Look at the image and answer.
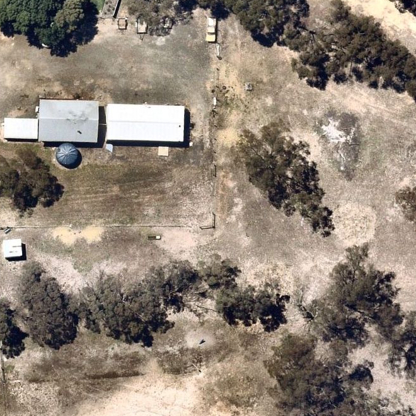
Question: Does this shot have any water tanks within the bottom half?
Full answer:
No, looking within the bottom half, there is no water tank.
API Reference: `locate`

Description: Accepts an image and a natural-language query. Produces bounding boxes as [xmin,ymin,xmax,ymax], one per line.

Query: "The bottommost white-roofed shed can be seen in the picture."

[2,239,21,258]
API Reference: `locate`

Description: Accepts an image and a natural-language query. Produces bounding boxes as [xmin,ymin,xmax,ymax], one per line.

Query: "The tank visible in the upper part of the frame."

[56,142,80,168]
